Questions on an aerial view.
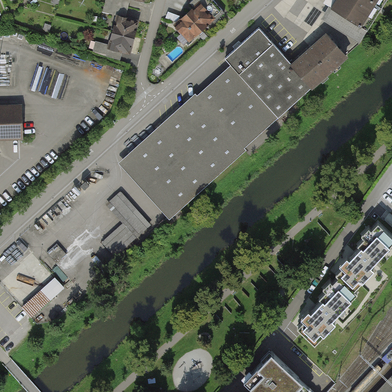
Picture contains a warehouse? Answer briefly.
Yes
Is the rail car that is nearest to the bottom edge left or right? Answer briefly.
right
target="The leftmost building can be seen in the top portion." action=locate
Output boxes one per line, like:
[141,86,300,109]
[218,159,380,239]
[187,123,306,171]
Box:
[0,104,24,140]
